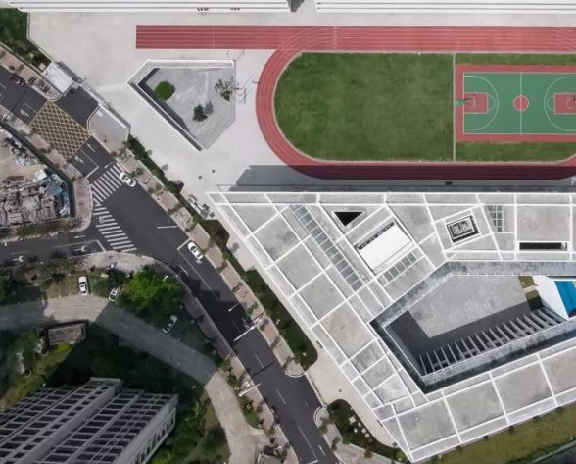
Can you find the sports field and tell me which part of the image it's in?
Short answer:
top right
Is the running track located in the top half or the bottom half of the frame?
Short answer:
top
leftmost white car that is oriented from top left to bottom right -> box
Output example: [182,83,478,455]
[118,171,135,187]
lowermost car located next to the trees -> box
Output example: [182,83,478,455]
[163,315,177,334]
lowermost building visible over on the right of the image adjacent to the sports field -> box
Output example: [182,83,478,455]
[206,191,576,464]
